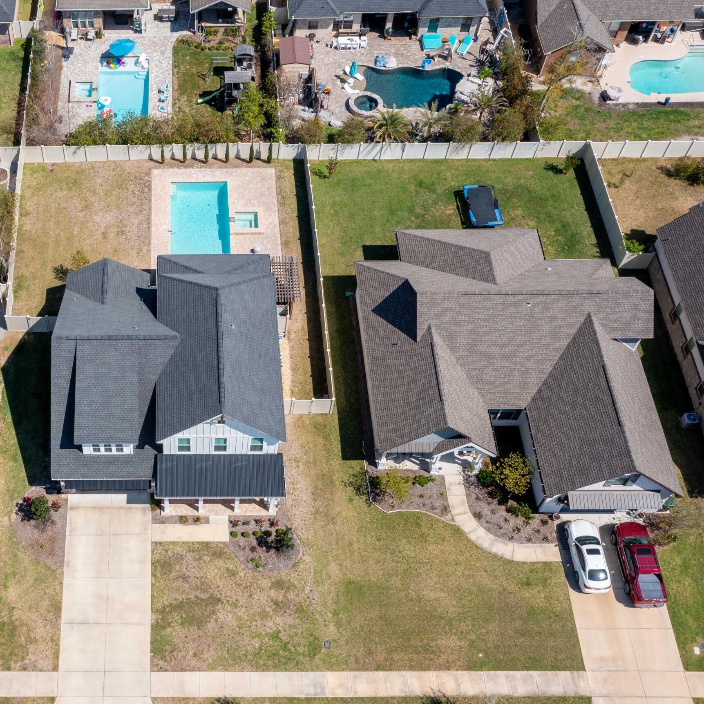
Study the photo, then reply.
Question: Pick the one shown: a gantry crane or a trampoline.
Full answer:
Of the two, only a trampoline appears.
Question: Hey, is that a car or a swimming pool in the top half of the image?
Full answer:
The feature located in the top half of the image is a swimming pool.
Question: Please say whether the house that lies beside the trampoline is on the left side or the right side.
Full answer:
The house that lies beside the trampoline appears in the right half of the scene.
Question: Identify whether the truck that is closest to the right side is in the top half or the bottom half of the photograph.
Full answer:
The truck that is closest to the right side sits in the bottom half of the picture.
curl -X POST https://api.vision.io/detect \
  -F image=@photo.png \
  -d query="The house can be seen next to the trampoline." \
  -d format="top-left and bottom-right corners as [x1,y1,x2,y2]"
[351,229,684,510]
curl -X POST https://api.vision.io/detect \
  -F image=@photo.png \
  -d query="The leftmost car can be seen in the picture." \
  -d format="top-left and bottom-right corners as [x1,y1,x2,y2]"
[568,517,618,595]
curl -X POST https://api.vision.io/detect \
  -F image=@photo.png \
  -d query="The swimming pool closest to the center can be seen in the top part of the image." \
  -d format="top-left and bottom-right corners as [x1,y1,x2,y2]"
[230,206,265,232]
